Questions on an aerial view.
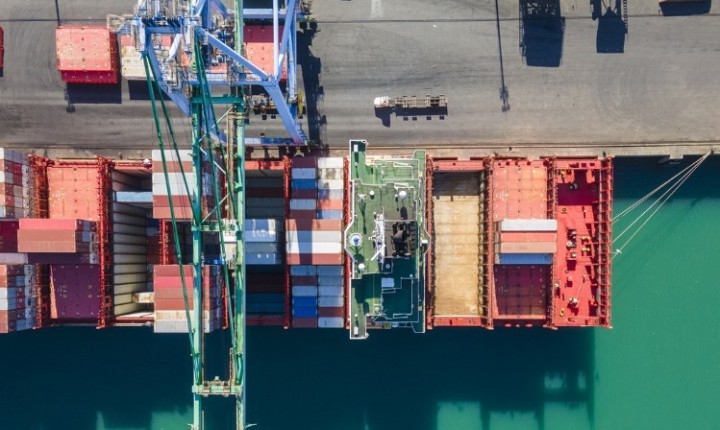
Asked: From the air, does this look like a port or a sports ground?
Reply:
port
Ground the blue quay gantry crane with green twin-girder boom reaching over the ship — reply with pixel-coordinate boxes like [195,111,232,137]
[101,0,331,430]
